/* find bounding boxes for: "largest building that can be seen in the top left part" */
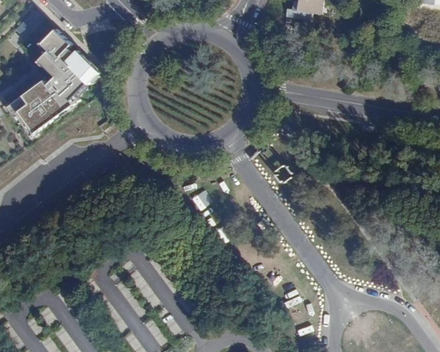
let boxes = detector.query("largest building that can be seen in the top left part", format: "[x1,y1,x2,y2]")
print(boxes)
[14,28,104,136]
